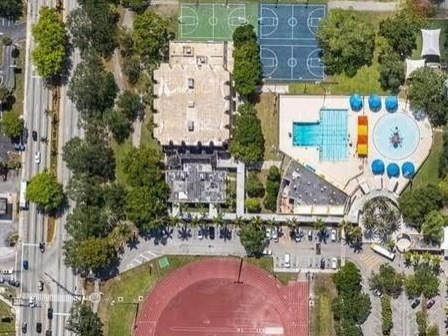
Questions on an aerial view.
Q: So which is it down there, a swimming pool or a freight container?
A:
swimming pool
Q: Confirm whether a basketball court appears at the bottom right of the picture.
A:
No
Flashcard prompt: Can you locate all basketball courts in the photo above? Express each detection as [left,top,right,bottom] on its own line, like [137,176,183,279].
[176,2,257,41]
[258,42,327,82]
[257,2,327,42]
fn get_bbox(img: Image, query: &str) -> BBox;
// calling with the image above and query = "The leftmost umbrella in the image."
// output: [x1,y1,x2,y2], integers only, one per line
[350,95,363,109]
